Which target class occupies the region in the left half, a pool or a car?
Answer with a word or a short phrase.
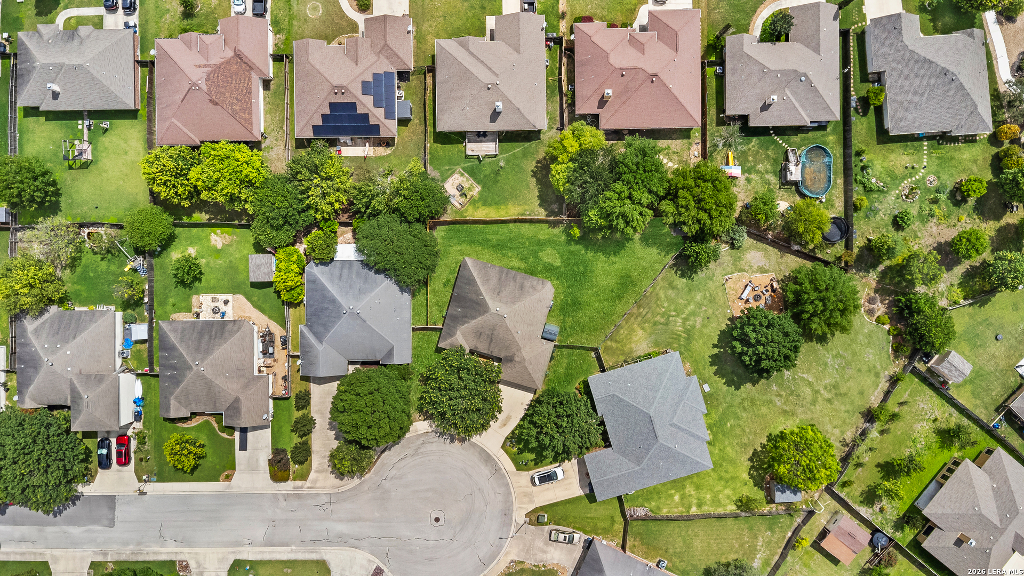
car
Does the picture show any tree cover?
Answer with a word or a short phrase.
Yes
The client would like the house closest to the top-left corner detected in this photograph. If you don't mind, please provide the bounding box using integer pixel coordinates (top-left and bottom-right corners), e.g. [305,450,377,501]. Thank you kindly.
[17,24,142,112]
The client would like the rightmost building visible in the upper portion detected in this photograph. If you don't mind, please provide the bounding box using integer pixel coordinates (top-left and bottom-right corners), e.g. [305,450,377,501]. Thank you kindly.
[863,13,993,137]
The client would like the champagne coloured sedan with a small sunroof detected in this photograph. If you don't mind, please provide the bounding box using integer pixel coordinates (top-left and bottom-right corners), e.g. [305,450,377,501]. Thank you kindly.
[549,529,582,547]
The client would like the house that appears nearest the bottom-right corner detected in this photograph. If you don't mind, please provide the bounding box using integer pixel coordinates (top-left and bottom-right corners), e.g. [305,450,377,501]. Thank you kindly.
[914,446,1024,576]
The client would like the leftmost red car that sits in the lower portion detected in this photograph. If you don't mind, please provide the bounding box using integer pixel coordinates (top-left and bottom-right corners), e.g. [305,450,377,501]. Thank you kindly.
[111,436,129,468]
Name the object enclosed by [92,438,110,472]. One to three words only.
car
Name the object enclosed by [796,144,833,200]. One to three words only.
swimming pool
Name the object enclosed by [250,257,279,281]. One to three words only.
shed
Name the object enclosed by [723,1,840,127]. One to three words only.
house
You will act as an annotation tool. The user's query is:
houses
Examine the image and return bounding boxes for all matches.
[571,9,701,130]
[914,446,1024,576]
[435,12,549,133]
[570,536,676,576]
[863,13,993,137]
[584,351,713,502]
[158,320,274,427]
[438,257,555,389]
[1001,379,1024,431]
[147,15,272,146]
[9,306,133,431]
[293,14,413,138]
[723,1,840,127]
[295,260,412,376]
[17,24,142,112]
